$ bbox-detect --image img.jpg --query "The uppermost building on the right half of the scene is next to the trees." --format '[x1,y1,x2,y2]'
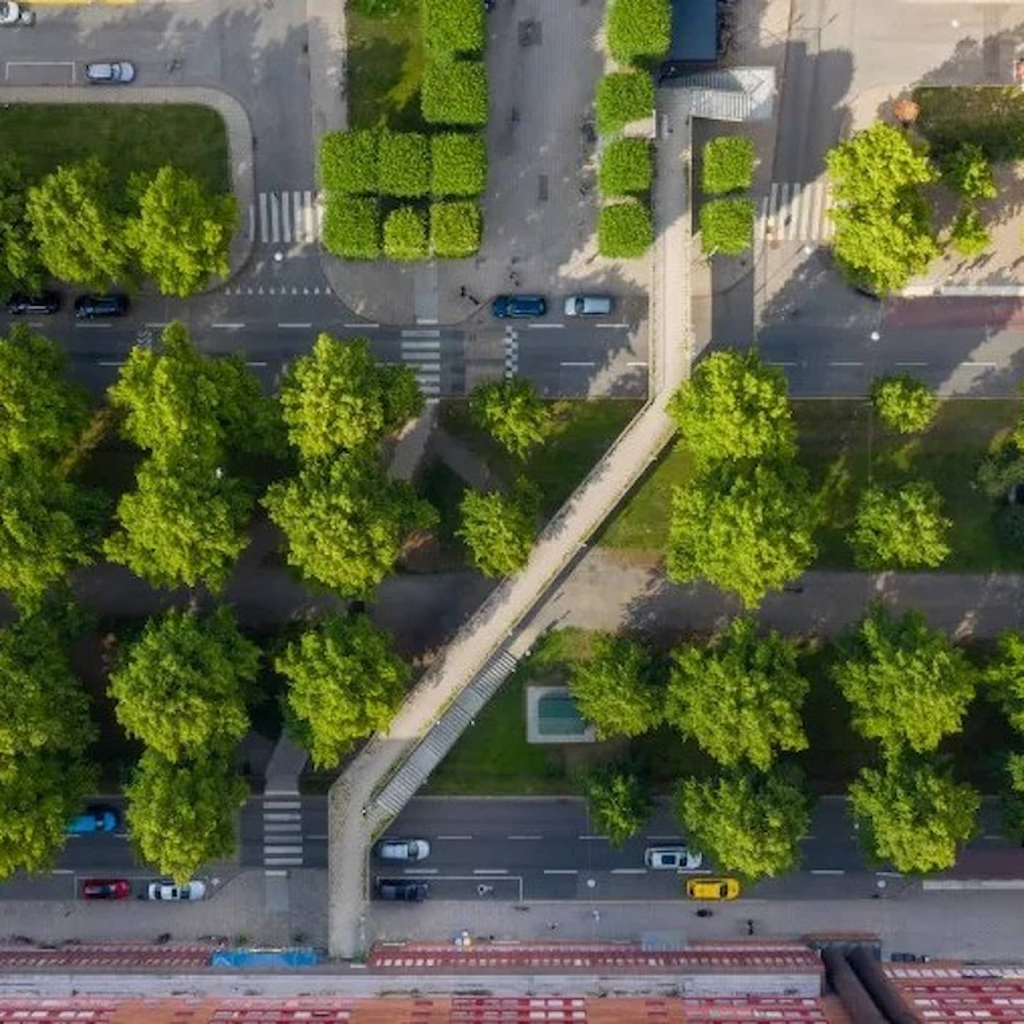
[670,0,716,72]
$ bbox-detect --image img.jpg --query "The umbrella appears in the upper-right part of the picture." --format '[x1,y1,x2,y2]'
[894,100,919,125]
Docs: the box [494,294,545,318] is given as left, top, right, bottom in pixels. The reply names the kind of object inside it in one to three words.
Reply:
car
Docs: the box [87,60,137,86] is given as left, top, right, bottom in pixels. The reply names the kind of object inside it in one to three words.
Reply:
car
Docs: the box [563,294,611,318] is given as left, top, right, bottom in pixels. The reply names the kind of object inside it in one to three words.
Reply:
vehicle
